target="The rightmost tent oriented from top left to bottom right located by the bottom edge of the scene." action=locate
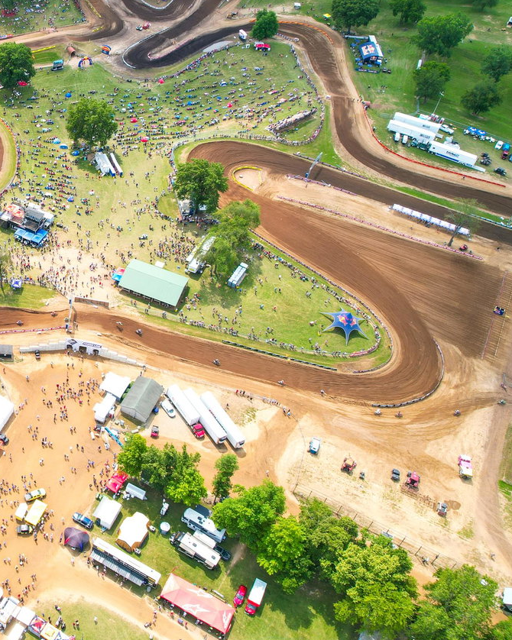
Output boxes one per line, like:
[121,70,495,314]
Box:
[156,574,235,639]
